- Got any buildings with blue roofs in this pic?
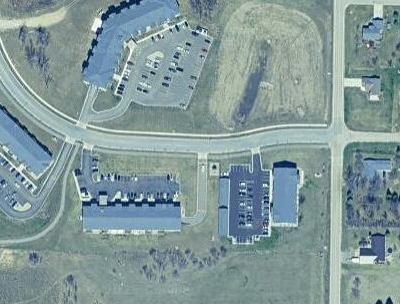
Yes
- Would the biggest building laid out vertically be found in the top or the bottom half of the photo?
bottom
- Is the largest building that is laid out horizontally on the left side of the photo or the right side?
left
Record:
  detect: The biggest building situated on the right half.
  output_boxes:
[270,168,299,228]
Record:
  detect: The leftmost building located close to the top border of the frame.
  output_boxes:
[82,0,180,89]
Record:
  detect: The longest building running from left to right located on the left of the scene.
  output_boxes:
[83,195,181,236]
